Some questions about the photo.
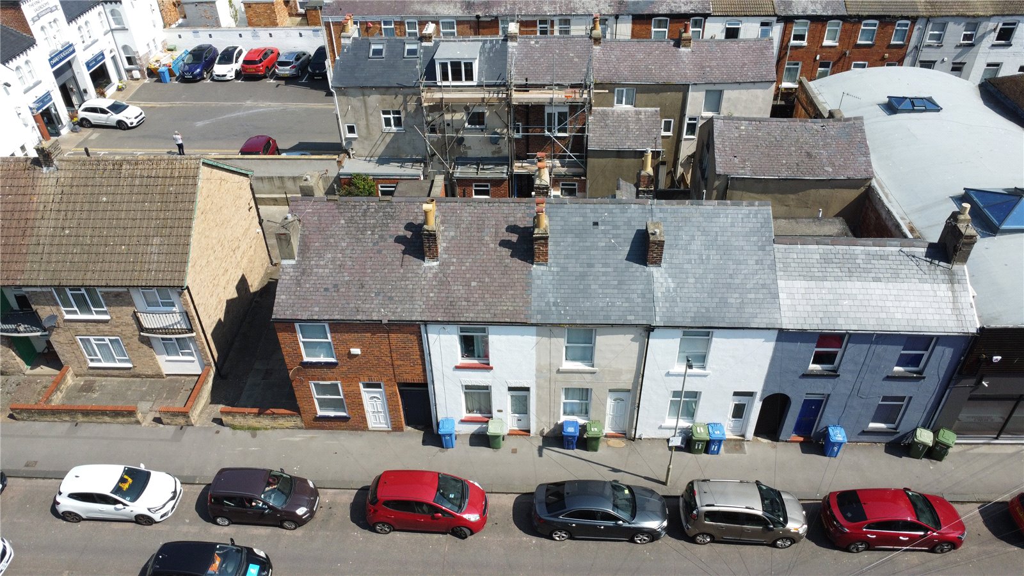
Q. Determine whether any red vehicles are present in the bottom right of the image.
Yes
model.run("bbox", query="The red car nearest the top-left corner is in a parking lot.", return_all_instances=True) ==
[244,48,281,77]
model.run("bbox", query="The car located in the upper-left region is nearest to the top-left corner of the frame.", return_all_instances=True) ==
[76,97,144,130]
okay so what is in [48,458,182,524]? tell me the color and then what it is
white car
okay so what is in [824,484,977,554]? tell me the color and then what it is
red car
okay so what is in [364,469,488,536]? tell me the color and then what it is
red car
